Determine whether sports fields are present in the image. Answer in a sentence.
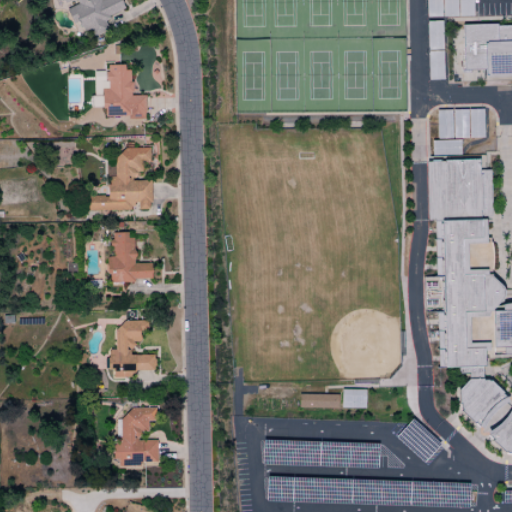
Yes, a sports field can be made out from above.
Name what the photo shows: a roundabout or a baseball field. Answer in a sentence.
The image shows a baseball field.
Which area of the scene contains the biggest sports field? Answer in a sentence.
Look in the center portion of the view to spot the biggest sports field.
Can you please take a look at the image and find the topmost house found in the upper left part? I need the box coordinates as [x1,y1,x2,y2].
[68,0,129,36]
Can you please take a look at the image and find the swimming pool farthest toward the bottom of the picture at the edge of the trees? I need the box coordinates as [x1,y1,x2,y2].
[88,330,104,355]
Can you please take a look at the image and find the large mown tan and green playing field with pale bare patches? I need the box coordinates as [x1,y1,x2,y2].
[218,128,402,382]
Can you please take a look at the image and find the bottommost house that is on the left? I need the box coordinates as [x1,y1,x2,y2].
[114,408,159,466]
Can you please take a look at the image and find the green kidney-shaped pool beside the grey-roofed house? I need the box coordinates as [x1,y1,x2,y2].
[55,10,74,28]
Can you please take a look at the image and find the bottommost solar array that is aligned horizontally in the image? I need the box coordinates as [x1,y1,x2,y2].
[268,477,472,508]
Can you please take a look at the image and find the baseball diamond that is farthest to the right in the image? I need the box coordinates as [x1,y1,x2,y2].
[330,308,402,380]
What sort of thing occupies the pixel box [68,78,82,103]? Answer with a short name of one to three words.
swimming pool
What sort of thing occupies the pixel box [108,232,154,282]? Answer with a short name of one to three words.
house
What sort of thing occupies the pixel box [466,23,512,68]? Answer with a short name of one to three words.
building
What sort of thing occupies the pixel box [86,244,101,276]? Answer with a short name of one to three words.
swimming pool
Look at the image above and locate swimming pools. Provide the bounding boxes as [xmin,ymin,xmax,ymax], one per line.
[55,10,74,28]
[68,78,82,103]
[86,244,101,276]
[88,330,104,355]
